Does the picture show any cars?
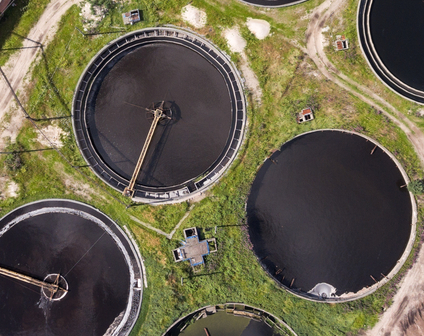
No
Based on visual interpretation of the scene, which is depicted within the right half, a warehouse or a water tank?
water tank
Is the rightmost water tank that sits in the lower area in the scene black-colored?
Yes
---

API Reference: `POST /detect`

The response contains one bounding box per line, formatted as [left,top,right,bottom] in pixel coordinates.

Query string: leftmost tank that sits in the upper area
[70,27,249,208]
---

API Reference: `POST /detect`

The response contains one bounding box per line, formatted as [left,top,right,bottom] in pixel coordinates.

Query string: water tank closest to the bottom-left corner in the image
[0,198,147,336]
